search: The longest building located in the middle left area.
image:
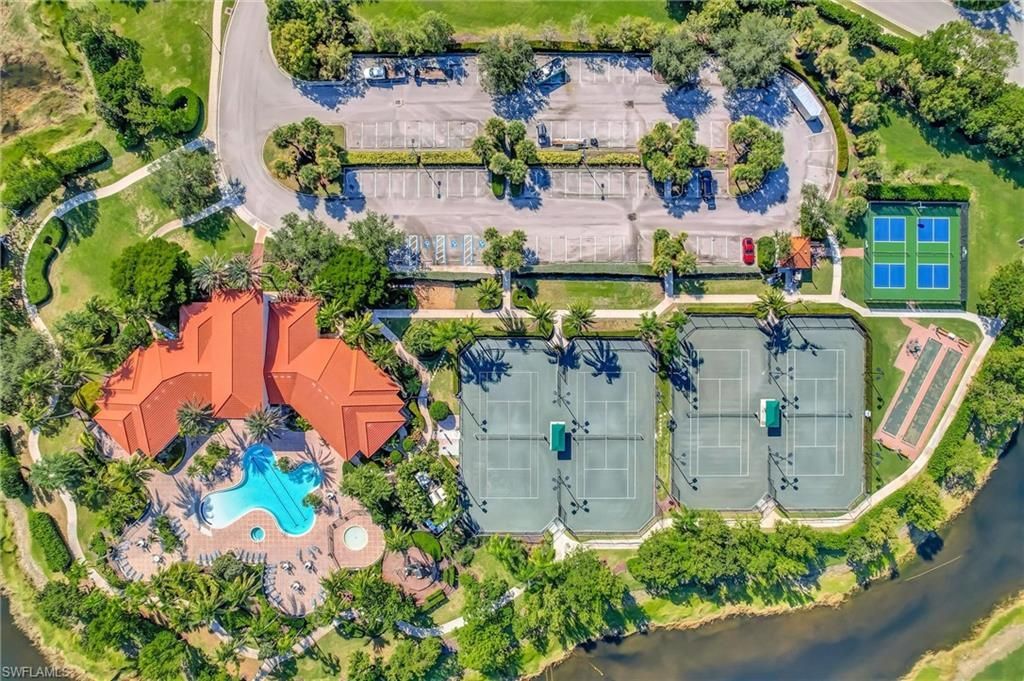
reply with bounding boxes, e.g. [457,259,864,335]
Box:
[94,291,406,460]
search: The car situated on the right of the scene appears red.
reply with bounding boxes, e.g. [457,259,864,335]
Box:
[744,238,756,263]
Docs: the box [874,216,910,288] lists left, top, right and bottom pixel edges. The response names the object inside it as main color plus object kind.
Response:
blue sports court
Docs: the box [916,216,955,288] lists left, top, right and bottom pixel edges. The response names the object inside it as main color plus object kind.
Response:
blue sports court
